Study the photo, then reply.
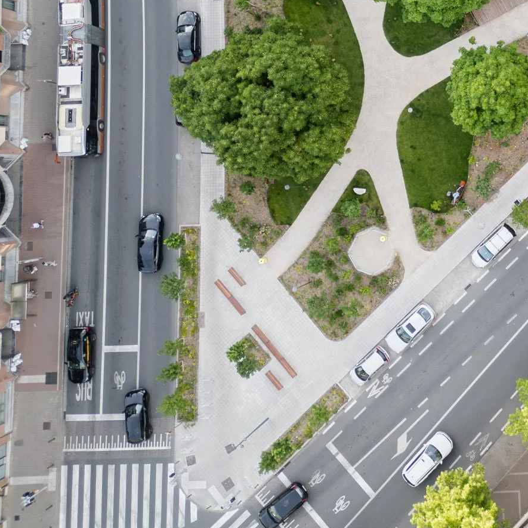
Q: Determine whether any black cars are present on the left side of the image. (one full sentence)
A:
Yes, a black car is visible on the left side of the image.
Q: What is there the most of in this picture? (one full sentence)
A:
The largest share of the image is taken up by paved ground.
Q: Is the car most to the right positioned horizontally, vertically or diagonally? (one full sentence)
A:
From this overhead view, the car most to the right appears to run diagonally.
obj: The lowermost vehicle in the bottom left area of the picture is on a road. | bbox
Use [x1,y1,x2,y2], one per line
[121,386,155,444]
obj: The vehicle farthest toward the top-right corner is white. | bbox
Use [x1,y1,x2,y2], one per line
[470,220,520,269]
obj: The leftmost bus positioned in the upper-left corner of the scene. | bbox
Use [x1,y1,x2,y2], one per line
[55,0,105,163]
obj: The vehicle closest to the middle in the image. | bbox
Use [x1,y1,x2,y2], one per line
[138,213,167,272]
